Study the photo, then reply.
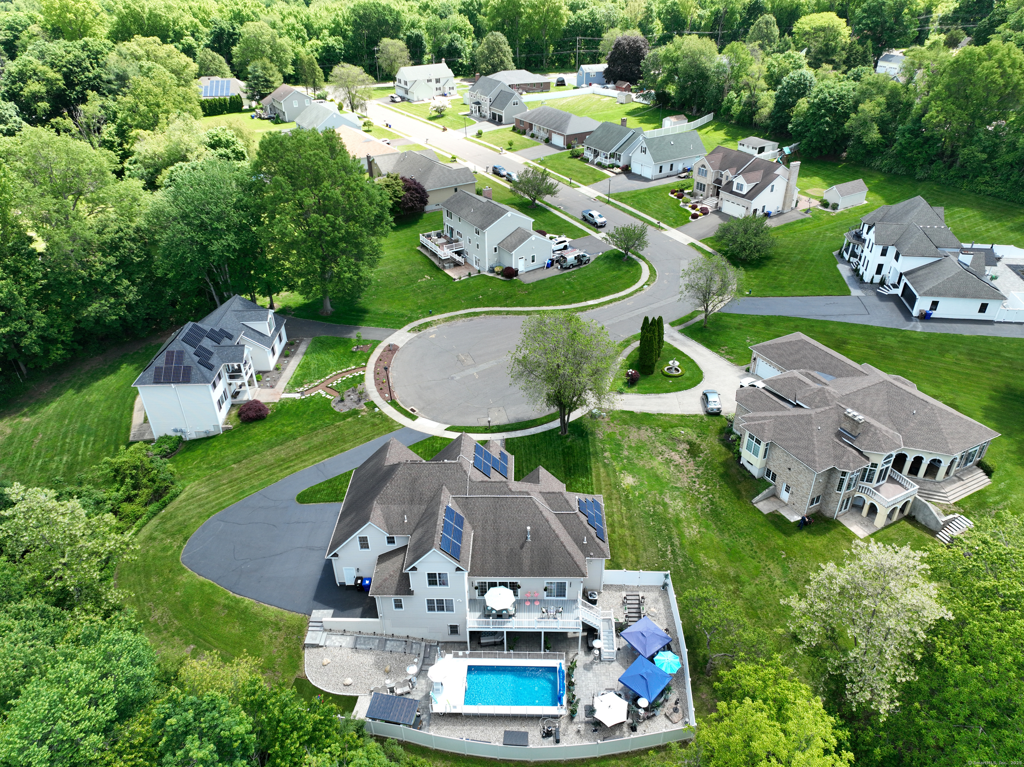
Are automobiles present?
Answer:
Yes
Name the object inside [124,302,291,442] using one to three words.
house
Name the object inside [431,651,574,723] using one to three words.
swimming pool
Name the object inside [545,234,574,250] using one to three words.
car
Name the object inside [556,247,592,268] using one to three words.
vehicle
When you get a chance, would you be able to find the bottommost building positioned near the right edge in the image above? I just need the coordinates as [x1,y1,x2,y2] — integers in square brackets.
[725,332,1002,544]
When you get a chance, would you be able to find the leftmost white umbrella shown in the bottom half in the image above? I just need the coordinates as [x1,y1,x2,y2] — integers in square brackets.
[426,664,455,690]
